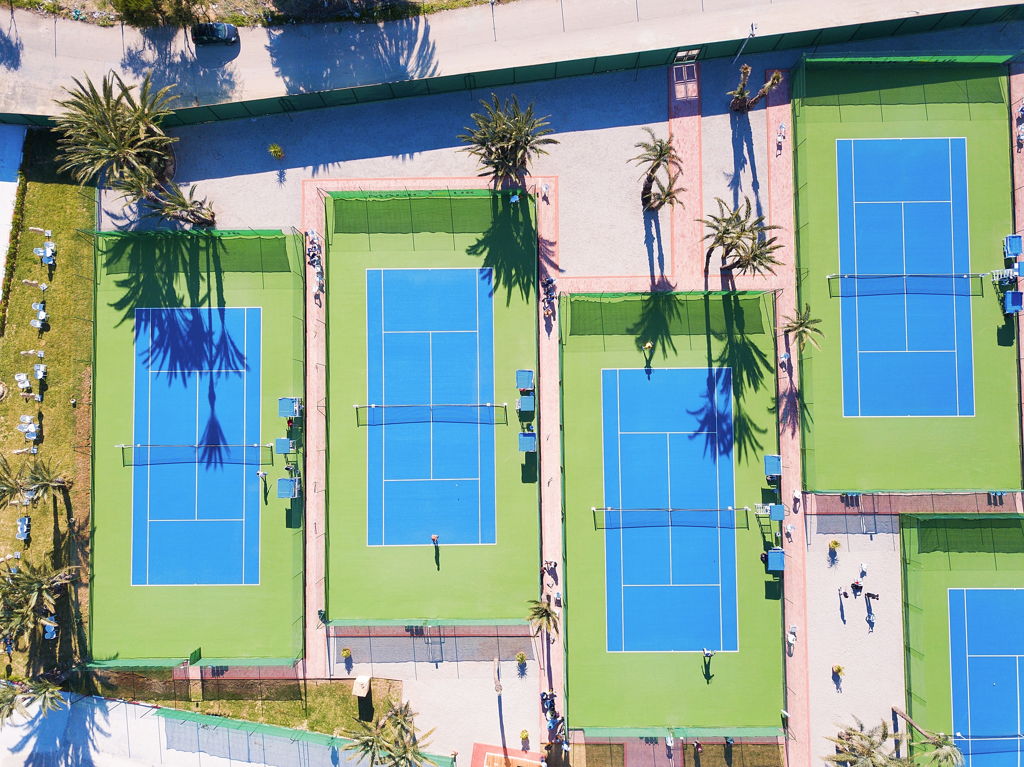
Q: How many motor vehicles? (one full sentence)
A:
I count just 1 motor vehicle.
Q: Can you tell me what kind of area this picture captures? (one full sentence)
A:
This image shows a sports ground.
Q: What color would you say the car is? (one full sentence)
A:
The car is black.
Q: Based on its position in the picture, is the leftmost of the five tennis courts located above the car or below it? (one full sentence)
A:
It's below the car that the leftmost of the five tennis courts shows up.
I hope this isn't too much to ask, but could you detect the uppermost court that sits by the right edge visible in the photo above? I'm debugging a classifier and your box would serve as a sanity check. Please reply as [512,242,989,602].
[791,69,1024,490]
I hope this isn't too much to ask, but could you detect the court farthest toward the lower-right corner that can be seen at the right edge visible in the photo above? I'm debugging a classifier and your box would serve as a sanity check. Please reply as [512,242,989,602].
[897,512,1024,767]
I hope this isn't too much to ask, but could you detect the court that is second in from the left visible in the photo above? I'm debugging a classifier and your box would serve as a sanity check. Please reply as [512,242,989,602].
[324,196,542,622]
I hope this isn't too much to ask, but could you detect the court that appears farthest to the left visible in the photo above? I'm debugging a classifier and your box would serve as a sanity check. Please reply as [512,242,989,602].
[88,236,306,660]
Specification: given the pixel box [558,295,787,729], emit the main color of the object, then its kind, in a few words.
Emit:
green tennis court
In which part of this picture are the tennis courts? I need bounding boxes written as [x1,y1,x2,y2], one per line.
[558,295,787,729]
[324,196,542,622]
[897,512,1024,767]
[88,236,306,660]
[791,69,1024,490]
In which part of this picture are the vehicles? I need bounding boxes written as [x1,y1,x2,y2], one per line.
[191,19,238,47]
